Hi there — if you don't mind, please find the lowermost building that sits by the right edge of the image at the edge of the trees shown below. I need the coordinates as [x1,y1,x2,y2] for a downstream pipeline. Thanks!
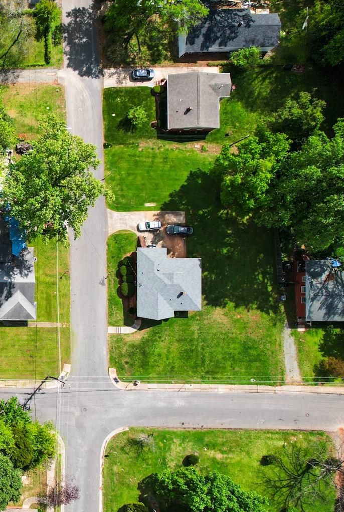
[284,260,344,325]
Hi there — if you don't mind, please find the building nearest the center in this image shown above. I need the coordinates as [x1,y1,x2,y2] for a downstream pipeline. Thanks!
[131,233,202,319]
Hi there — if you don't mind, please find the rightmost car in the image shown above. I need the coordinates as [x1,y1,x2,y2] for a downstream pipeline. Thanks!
[164,223,194,236]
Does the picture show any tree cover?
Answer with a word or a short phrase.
Yes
